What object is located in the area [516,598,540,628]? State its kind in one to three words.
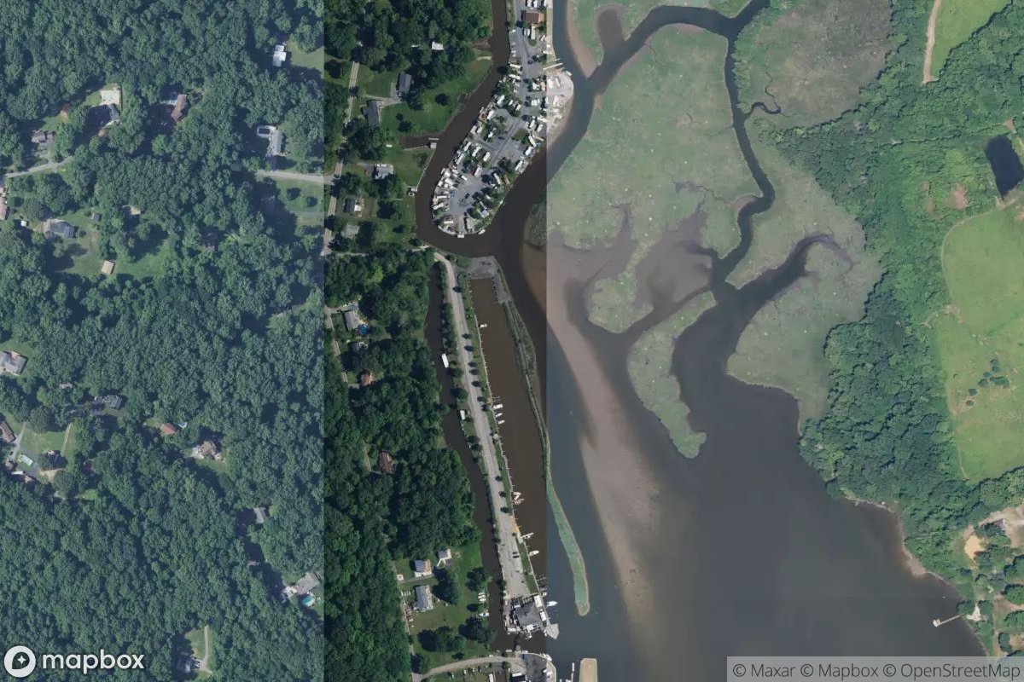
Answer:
building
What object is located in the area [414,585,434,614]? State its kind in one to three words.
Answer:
house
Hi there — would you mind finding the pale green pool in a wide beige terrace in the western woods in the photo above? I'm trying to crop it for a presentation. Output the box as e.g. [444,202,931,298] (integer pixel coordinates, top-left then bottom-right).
[100,88,121,104]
